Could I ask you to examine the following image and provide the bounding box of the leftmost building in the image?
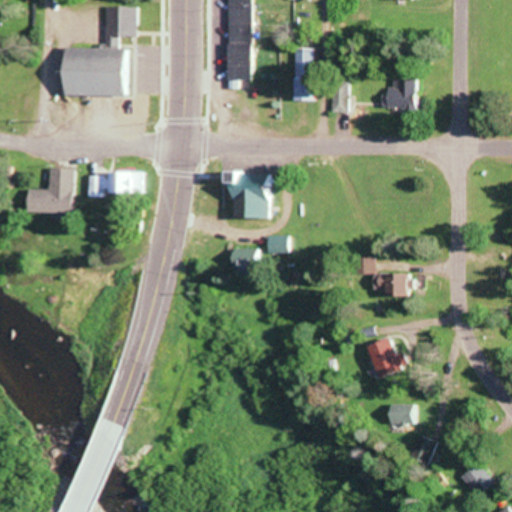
[25,168,77,214]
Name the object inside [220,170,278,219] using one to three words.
building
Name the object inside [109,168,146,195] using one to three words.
building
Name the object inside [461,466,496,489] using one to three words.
house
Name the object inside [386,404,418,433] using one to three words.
house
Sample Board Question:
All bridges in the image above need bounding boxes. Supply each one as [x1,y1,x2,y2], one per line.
[58,407,128,512]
